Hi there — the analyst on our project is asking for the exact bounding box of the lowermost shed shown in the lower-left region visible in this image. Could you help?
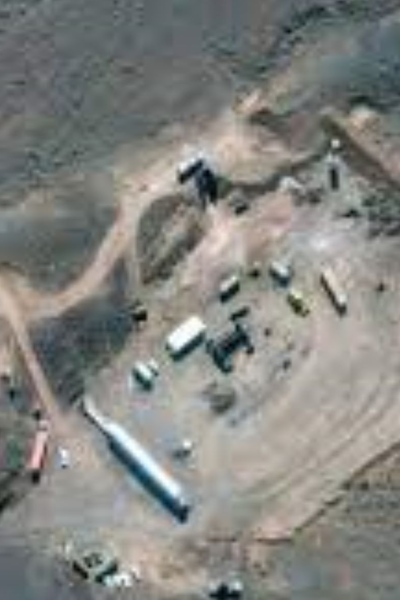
[75,544,114,583]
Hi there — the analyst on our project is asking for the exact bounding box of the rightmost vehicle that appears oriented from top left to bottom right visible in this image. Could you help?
[318,270,348,310]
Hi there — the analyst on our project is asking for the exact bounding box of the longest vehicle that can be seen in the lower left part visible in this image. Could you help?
[31,422,49,468]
